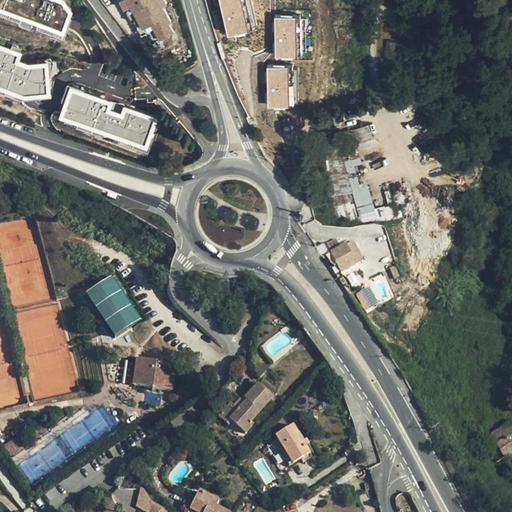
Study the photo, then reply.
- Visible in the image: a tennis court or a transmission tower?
tennis court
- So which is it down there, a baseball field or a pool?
pool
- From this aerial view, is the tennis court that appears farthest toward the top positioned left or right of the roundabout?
to the left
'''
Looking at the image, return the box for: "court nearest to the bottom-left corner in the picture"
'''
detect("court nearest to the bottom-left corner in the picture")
[19,434,73,482]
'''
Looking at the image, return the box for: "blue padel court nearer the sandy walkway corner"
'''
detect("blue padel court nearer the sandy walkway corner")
[58,404,119,453]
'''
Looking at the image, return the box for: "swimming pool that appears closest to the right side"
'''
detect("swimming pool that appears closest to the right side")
[372,274,394,304]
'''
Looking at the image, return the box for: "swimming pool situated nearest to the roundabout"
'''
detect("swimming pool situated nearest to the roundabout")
[262,326,298,362]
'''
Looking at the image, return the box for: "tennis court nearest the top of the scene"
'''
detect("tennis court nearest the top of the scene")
[0,219,56,308]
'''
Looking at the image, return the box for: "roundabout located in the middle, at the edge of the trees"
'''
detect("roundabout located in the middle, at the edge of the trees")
[179,157,300,278]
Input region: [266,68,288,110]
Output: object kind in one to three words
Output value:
house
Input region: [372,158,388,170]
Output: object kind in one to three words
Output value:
vehicle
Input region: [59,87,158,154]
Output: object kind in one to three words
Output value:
building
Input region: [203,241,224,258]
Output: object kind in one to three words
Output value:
vehicle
